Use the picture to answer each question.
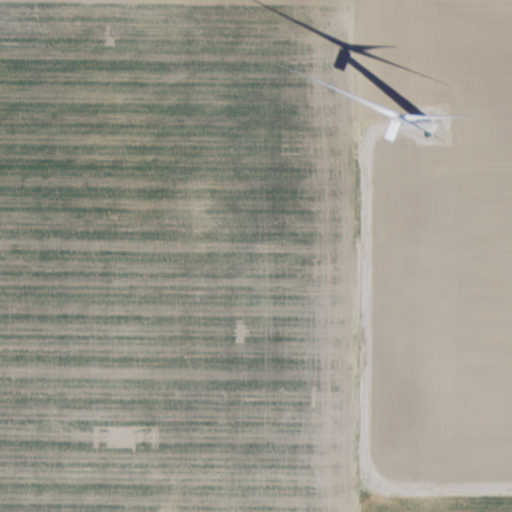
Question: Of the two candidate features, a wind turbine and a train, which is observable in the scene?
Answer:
wind turbine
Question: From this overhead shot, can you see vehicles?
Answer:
No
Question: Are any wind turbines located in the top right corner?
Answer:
Yes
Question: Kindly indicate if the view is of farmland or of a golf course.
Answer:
farmland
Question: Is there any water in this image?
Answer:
No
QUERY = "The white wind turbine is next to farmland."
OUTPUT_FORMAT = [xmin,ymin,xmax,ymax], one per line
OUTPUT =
[272,55,475,148]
